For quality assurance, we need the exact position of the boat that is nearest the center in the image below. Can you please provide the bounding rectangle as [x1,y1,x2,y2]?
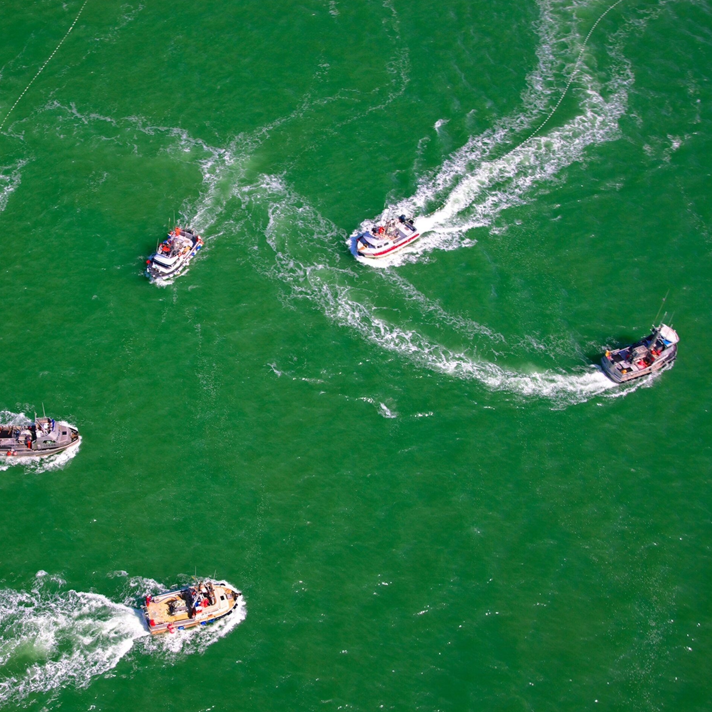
[356,208,418,258]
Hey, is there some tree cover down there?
No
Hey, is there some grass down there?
No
